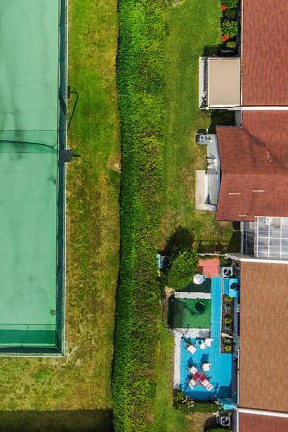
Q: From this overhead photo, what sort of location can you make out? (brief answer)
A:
residential area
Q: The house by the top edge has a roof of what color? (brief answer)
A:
red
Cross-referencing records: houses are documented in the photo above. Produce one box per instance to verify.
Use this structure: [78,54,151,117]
[232,409,288,432]
[234,260,288,410]
[200,0,288,107]
[208,111,288,220]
